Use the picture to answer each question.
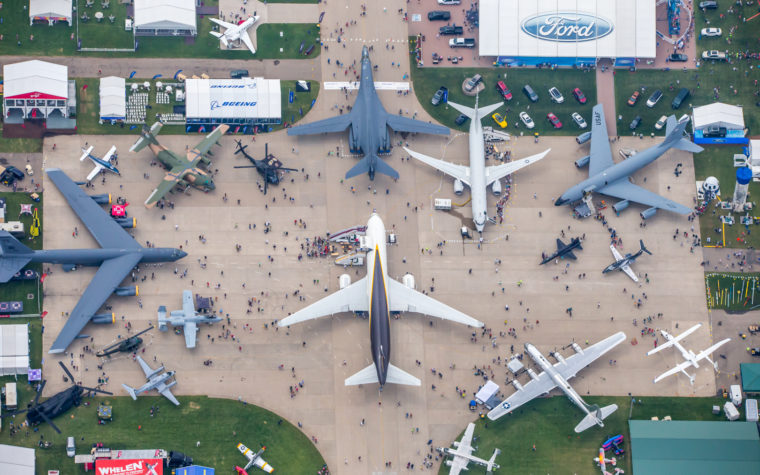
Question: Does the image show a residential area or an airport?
airport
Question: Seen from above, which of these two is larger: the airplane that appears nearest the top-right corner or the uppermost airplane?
the airplane that appears nearest the top-right corner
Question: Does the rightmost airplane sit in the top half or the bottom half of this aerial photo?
bottom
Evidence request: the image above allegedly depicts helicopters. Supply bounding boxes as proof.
[232,133,298,192]
[0,361,113,431]
[93,327,152,357]
[30,209,39,238]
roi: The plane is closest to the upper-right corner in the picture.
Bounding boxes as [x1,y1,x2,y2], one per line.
[557,96,707,215]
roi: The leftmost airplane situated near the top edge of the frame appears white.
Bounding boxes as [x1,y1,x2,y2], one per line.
[209,16,260,56]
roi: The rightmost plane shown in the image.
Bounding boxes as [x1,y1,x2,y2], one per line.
[646,324,734,387]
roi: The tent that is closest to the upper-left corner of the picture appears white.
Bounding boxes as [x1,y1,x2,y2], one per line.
[27,0,75,26]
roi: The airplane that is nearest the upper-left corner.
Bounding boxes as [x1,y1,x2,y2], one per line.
[80,146,122,181]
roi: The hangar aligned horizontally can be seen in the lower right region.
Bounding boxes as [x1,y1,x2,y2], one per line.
[627,419,760,475]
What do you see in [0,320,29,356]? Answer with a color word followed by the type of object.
white tent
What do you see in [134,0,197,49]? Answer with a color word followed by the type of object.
white tent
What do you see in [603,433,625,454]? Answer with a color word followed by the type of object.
blue airplane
